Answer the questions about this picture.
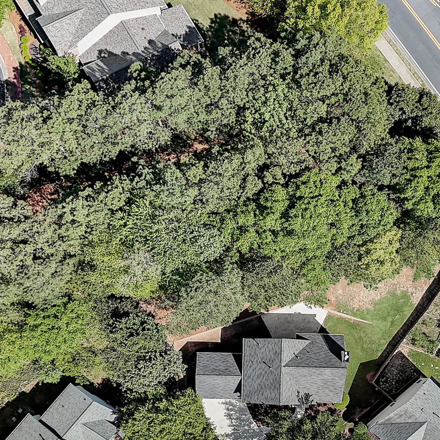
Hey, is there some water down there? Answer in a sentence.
No, the picture contains no water.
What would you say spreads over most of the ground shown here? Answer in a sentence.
The bulk of the photo consists of trees.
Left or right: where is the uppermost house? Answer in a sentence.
You can find the uppermost house on the left side of the picture.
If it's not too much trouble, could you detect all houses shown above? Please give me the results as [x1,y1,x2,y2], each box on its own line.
[368,377,440,440]
[196,334,353,405]
[5,383,123,440]
[24,0,204,87]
